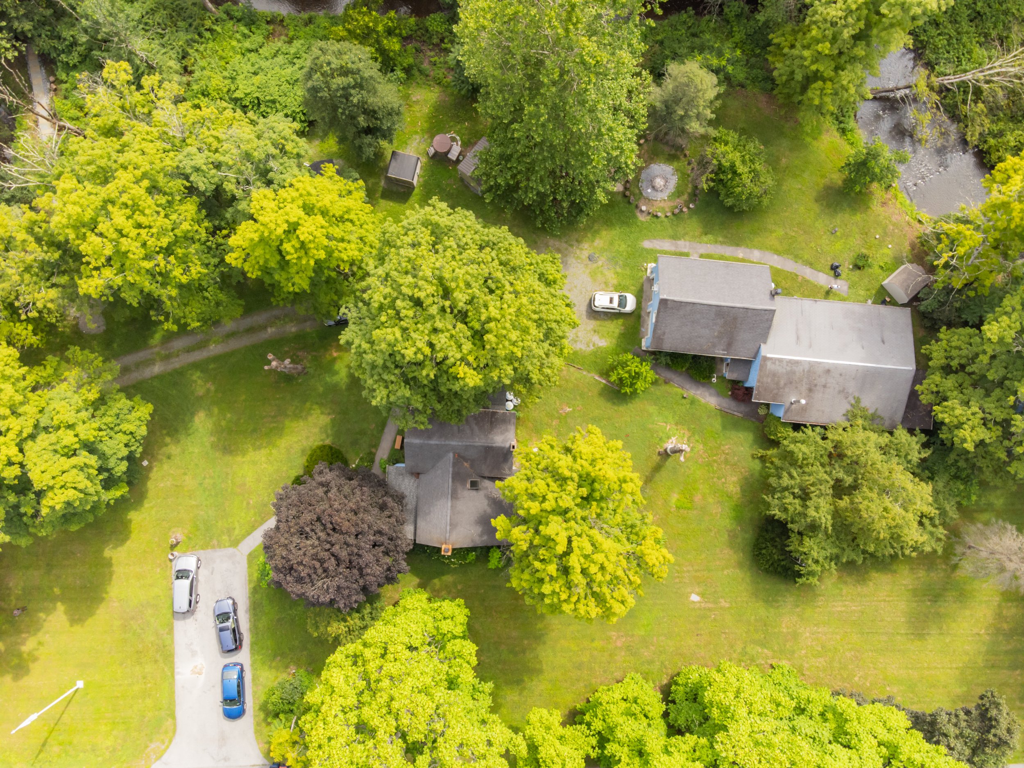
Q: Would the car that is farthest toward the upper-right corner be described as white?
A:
Yes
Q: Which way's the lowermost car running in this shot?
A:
up and down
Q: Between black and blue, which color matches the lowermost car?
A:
blue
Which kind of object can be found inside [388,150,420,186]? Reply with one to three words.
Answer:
shed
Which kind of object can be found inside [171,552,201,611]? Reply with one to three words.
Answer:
car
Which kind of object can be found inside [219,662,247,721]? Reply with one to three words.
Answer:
car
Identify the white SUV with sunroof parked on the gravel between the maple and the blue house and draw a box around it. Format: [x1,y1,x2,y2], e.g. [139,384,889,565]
[591,290,637,314]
